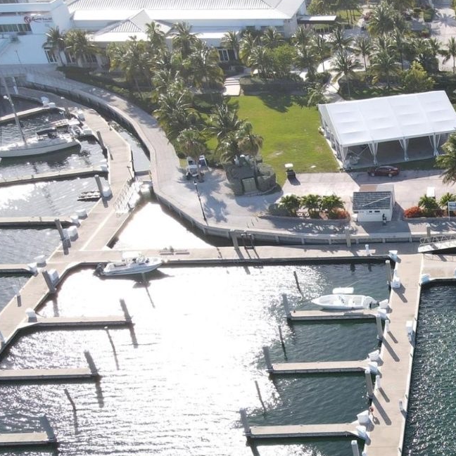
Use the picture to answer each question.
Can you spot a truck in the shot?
No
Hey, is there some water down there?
Yes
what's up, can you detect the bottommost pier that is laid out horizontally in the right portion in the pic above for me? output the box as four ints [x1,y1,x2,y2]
[246,412,367,449]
